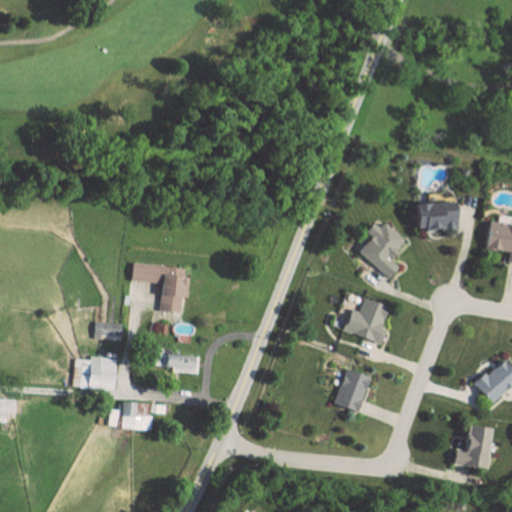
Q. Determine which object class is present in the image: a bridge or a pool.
pool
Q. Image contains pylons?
No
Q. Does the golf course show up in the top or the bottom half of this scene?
top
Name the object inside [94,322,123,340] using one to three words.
barn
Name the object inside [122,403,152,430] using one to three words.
building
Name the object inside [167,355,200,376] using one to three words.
house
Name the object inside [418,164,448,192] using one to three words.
swimming pool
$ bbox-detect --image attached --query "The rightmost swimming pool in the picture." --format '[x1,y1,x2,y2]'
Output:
[492,190,512,210]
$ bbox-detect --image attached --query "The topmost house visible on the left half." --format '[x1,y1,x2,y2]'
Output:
[131,262,190,313]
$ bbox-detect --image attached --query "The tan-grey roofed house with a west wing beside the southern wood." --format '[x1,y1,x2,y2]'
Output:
[454,425,498,470]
